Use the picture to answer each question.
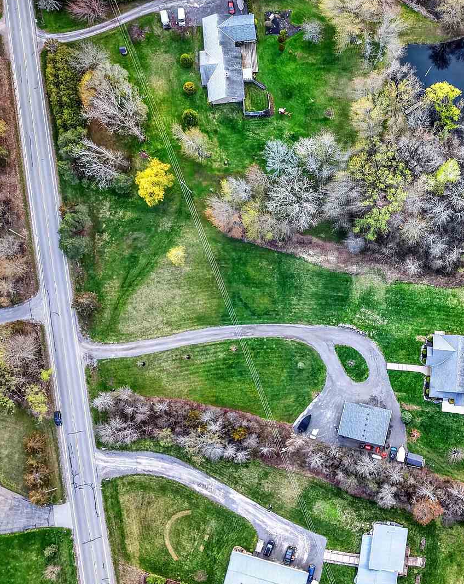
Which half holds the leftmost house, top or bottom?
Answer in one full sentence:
The leftmost house sits in the top half of the picture.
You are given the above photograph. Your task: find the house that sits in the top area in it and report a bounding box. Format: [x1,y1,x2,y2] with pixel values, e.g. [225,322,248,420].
[199,13,257,105]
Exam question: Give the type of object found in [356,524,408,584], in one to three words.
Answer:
house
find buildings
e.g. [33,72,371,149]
[224,551,309,584]
[199,13,257,105]
[338,402,392,445]
[356,524,408,584]
[426,336,464,406]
